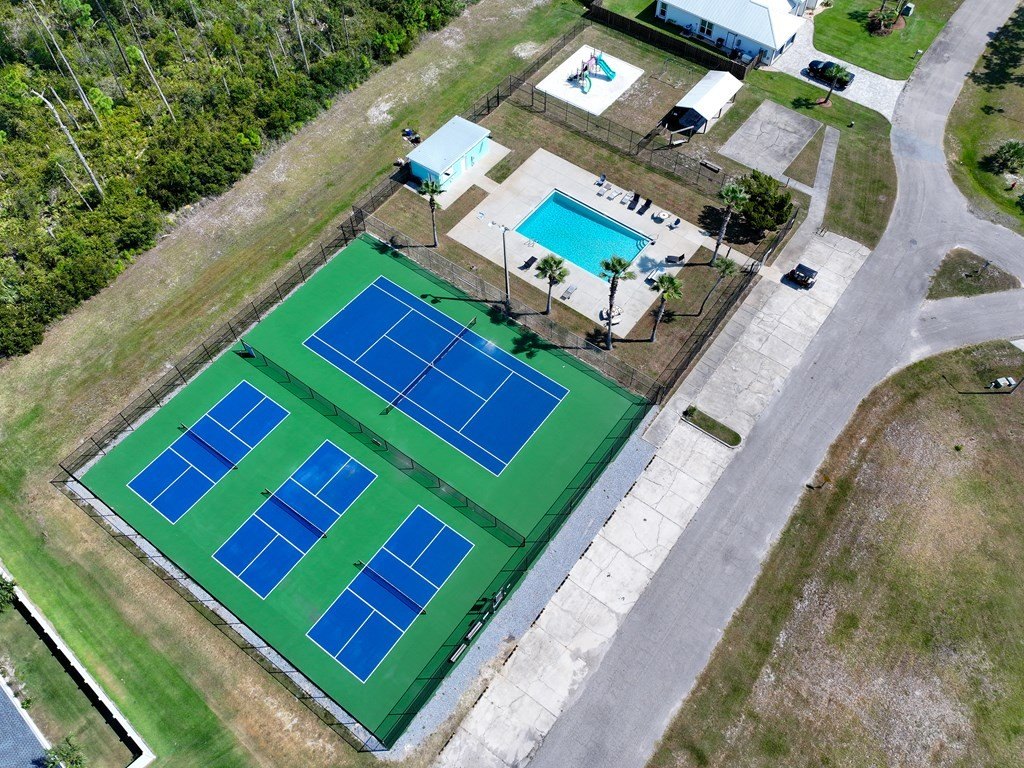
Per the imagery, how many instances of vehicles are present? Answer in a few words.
2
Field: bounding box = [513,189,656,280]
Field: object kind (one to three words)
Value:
swimming pool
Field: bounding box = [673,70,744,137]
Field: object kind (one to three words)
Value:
building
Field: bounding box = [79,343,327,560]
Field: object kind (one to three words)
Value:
sports court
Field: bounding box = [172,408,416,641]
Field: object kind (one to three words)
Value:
sports court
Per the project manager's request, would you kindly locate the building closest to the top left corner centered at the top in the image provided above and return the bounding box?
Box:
[406,112,492,191]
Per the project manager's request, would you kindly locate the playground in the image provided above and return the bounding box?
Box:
[570,46,622,95]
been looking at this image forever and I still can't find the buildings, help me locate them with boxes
[406,112,492,191]
[0,672,65,768]
[655,0,834,65]
[673,70,744,137]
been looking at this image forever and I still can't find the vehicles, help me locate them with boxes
[805,58,852,86]
[788,262,817,289]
